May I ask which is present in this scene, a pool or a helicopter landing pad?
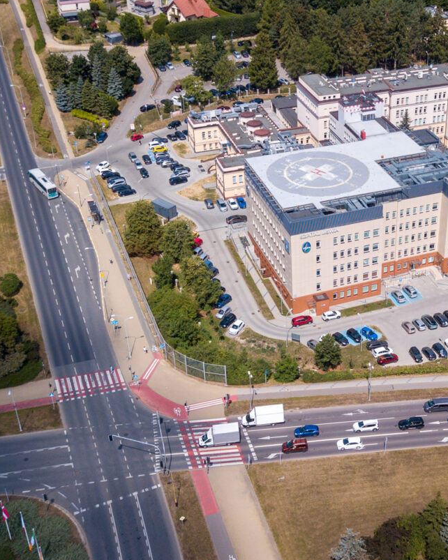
helicopter landing pad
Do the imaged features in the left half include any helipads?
No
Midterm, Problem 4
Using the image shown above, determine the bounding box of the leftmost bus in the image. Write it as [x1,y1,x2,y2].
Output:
[32,169,58,196]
